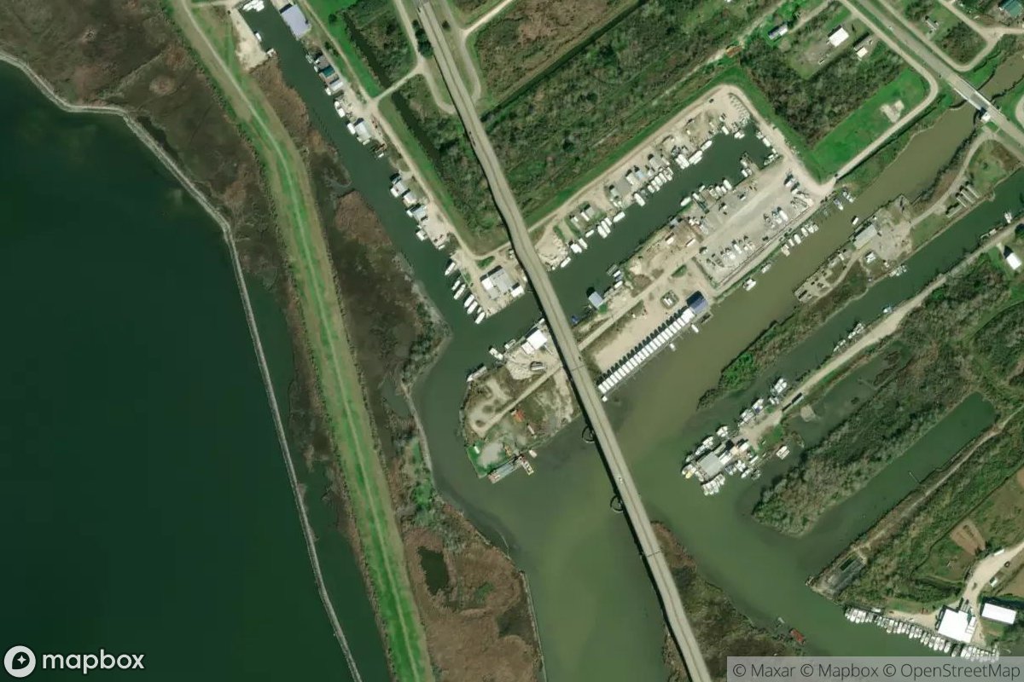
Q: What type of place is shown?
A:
port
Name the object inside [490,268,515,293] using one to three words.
shed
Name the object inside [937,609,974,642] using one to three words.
building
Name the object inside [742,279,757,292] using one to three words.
boat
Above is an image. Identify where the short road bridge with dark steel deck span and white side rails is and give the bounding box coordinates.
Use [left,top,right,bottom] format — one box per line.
[944,67,1008,127]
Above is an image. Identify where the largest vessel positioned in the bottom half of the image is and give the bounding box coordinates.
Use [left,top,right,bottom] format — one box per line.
[489,458,521,480]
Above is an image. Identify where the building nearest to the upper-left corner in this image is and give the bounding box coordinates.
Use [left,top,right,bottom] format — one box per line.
[281,4,309,36]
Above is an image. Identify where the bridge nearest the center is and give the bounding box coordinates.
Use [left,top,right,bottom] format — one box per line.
[415,0,711,682]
